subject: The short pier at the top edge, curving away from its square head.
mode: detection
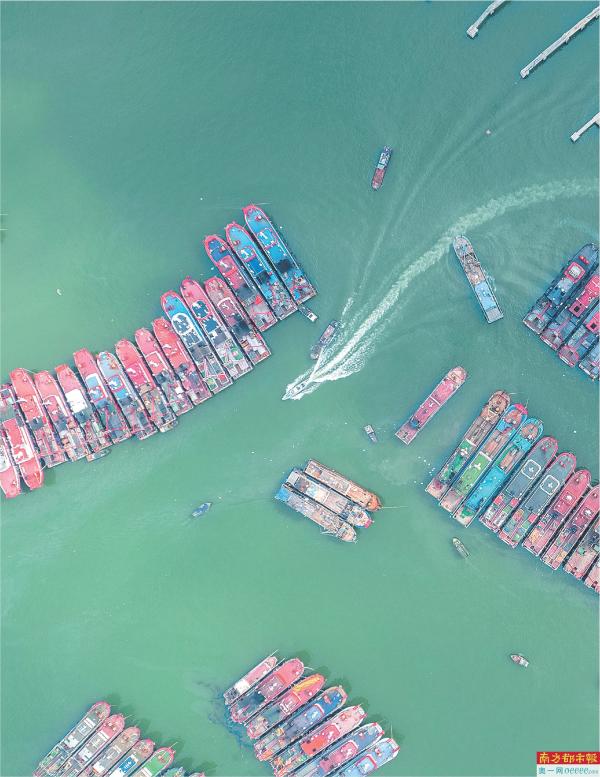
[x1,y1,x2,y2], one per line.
[466,0,508,39]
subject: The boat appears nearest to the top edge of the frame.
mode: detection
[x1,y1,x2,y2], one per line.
[369,145,393,190]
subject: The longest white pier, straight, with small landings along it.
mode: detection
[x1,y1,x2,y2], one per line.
[517,8,600,79]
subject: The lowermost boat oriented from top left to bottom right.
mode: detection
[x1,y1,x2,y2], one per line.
[511,653,529,668]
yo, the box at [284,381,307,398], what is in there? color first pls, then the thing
white boat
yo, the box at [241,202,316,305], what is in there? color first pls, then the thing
blue boat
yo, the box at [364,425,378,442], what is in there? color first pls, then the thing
white boat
